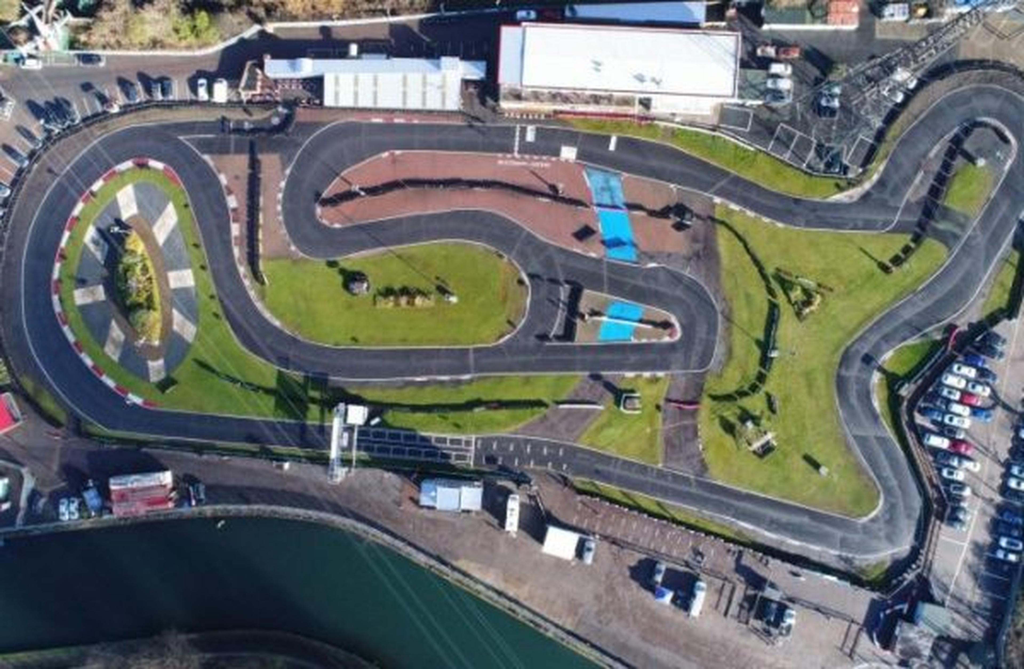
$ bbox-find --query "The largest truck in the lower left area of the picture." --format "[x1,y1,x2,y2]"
[74,480,101,520]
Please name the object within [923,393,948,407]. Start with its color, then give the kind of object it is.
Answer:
black car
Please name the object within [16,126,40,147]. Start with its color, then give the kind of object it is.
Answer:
gray car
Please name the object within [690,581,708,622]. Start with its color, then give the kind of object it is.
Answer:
white vehicle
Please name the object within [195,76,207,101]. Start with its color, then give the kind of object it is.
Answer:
white vehicle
